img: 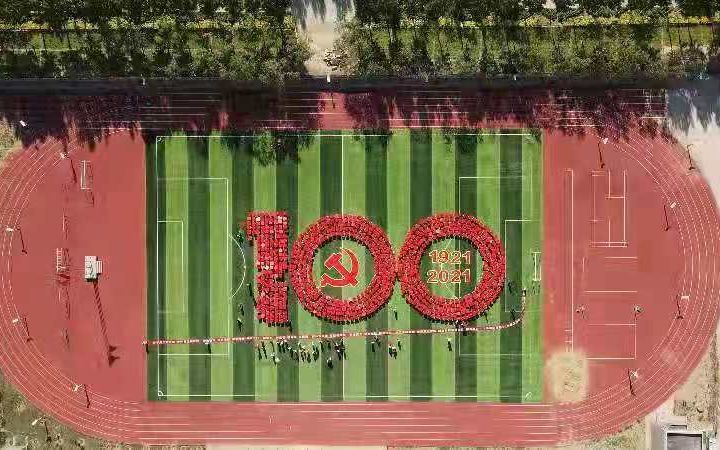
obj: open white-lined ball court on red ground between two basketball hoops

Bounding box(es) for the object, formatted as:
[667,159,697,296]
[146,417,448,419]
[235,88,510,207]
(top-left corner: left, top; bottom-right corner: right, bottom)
[581,254,640,361]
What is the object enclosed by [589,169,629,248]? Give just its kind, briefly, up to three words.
sports court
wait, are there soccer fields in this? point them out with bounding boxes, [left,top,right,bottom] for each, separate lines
[144,130,545,402]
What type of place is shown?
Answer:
sports ground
